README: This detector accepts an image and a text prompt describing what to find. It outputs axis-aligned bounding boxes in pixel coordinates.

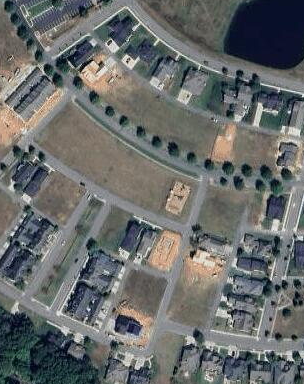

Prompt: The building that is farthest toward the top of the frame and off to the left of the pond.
[105,14,136,46]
